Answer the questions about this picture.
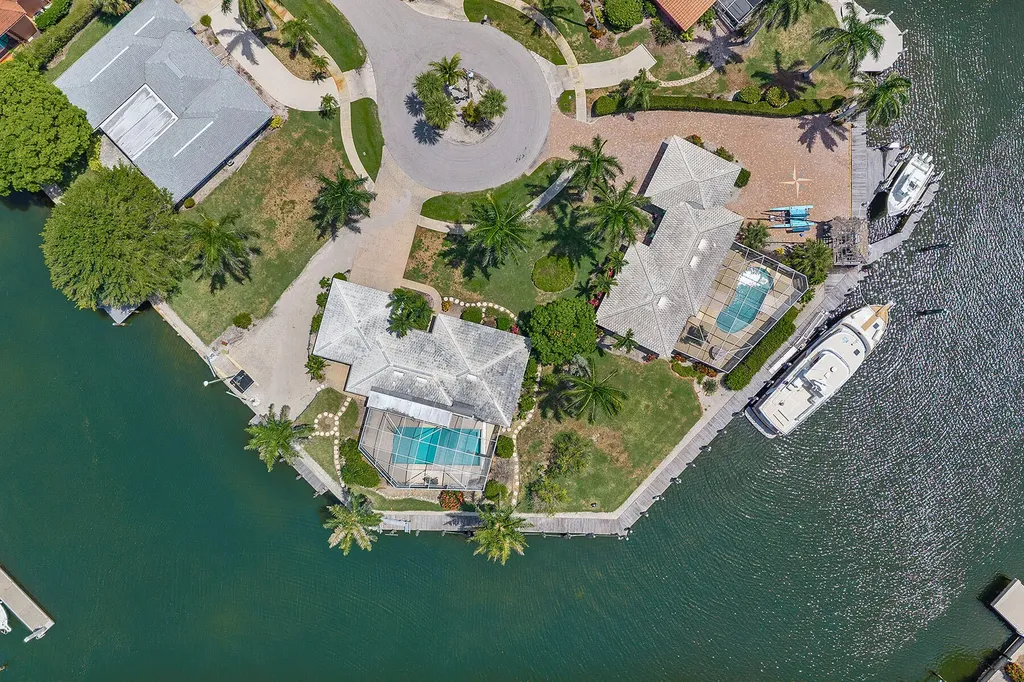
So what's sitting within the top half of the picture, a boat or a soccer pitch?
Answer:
boat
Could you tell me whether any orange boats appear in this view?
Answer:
No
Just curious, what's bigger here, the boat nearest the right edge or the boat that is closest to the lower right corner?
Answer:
the boat that is closest to the lower right corner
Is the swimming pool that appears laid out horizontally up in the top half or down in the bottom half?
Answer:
bottom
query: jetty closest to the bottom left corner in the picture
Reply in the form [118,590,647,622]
[0,568,49,635]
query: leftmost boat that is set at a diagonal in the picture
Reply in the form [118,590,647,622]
[748,302,894,436]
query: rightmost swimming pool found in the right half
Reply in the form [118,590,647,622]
[715,266,775,335]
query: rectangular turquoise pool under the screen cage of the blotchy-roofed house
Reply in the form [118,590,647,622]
[392,424,481,468]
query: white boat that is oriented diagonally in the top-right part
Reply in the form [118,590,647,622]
[885,151,935,217]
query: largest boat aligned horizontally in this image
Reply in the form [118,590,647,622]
[762,204,816,228]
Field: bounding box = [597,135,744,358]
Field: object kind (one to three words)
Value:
house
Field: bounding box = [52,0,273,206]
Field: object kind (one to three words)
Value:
house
